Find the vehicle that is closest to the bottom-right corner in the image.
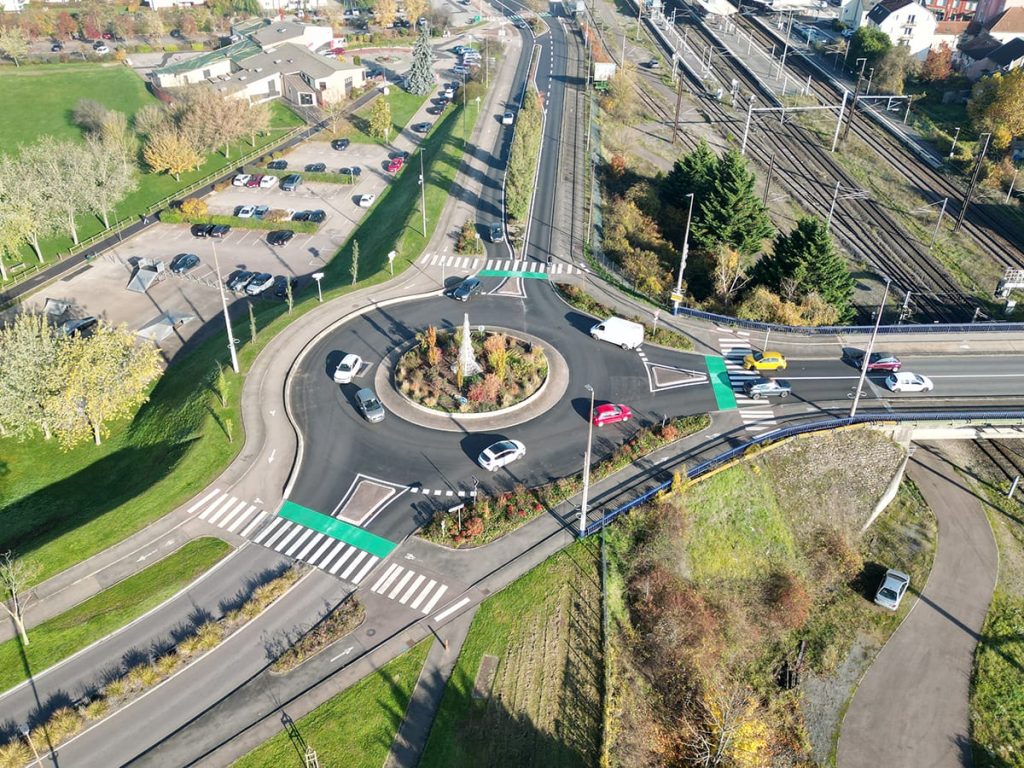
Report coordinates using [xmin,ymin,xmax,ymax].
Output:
[873,569,908,611]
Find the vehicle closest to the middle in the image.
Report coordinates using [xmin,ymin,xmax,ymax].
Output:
[476,439,526,470]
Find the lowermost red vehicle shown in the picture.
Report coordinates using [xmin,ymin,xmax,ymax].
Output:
[592,402,634,427]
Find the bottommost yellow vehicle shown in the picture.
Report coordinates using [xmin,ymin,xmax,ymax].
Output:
[745,350,787,369]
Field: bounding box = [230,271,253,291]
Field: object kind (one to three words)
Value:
car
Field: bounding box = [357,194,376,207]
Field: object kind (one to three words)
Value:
vehicle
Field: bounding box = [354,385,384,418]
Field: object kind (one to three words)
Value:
car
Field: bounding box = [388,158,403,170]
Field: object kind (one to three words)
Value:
vehicle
